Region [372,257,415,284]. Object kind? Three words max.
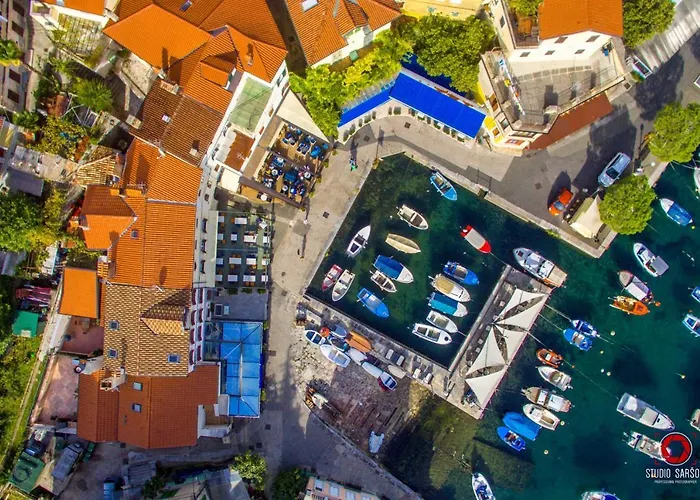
boat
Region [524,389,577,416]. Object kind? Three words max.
boat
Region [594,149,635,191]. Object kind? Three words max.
car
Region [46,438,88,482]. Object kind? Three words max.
van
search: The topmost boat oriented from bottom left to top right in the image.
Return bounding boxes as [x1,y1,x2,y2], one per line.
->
[344,226,371,259]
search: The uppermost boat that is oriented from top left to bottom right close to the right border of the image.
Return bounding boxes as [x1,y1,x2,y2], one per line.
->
[660,198,697,227]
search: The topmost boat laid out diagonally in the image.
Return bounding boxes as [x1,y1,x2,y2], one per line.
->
[429,170,458,200]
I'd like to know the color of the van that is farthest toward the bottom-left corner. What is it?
blue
